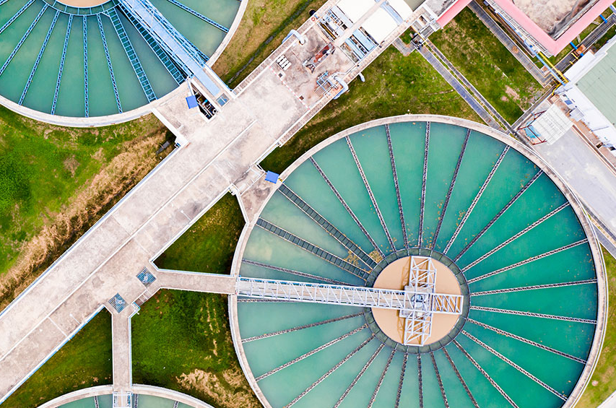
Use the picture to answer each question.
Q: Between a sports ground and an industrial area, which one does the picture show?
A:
industrial area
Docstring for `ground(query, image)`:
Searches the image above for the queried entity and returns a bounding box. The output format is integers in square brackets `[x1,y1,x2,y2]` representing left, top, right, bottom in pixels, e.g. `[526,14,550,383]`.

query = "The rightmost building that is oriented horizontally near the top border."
[491,0,615,58]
